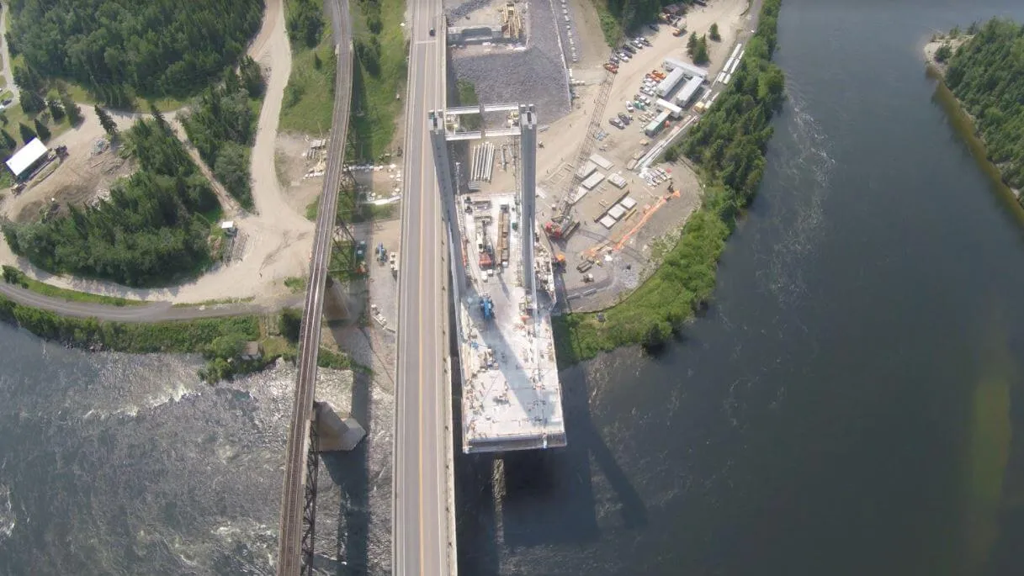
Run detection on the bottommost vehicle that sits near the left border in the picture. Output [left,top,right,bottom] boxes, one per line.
[4,178,25,197]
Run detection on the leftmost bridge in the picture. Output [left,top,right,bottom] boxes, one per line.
[276,44,368,576]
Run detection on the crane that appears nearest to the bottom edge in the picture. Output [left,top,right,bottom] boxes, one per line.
[466,204,497,255]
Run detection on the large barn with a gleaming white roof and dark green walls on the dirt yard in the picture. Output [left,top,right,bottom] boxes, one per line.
[4,142,57,184]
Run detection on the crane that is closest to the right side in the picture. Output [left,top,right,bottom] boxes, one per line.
[548,64,616,237]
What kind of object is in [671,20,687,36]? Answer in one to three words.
vehicle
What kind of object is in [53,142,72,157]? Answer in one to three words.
work vehicle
